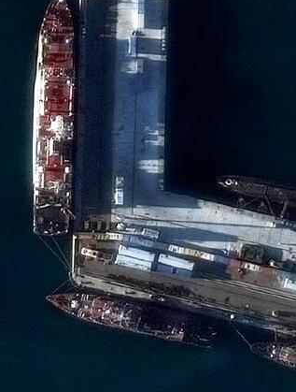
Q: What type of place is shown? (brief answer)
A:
port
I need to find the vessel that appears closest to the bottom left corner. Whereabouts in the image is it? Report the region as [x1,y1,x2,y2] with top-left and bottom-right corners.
[49,295,215,352]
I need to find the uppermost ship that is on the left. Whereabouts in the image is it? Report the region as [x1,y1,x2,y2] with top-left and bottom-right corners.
[35,0,77,238]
